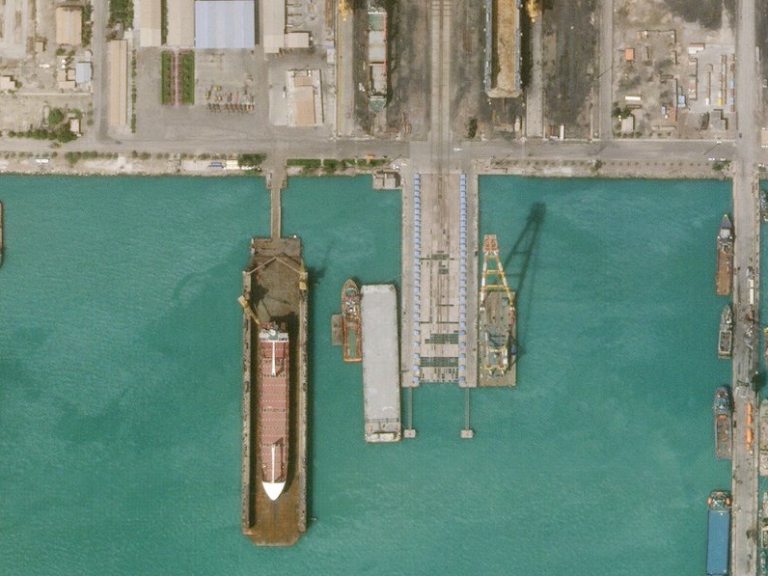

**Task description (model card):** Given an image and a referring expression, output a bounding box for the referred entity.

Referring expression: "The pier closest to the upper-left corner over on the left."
[265,160,287,238]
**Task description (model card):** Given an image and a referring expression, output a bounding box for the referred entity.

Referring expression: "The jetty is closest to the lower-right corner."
[731,166,759,576]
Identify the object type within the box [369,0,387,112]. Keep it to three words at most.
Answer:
ship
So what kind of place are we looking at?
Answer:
port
